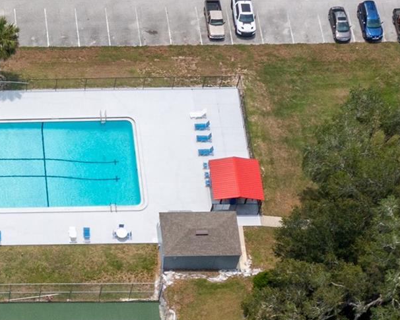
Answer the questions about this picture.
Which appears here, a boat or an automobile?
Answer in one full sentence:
There is an automobile in the scene.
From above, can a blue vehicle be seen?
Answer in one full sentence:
Yes, you can see a blue vehicle in this photo.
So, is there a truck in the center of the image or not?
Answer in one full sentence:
No, the scene shows no truck in the center of the image.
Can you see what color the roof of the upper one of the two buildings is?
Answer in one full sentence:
The color of the roof on the upper one of the two buildings is red.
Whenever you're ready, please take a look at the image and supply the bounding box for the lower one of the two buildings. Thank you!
[157,213,242,274]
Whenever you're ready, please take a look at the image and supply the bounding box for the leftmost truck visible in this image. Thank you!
[202,0,225,39]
